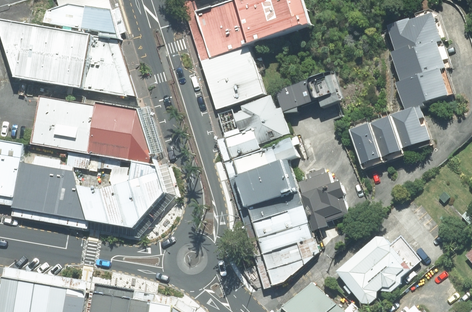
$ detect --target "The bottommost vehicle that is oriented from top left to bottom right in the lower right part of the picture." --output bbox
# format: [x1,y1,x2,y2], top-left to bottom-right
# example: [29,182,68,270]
[416,248,430,266]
